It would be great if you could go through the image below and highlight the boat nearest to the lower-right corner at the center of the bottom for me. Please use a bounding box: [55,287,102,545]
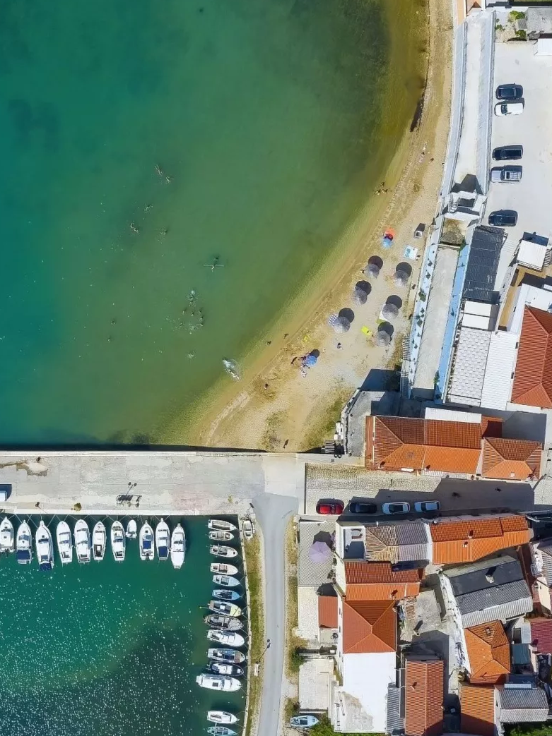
[289,715,318,727]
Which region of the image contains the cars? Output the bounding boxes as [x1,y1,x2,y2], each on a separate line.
[348,501,376,515]
[316,500,344,514]
[413,500,440,512]
[497,86,522,100]
[491,167,521,183]
[488,211,517,225]
[381,501,409,515]
[493,146,522,160]
[495,103,523,117]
